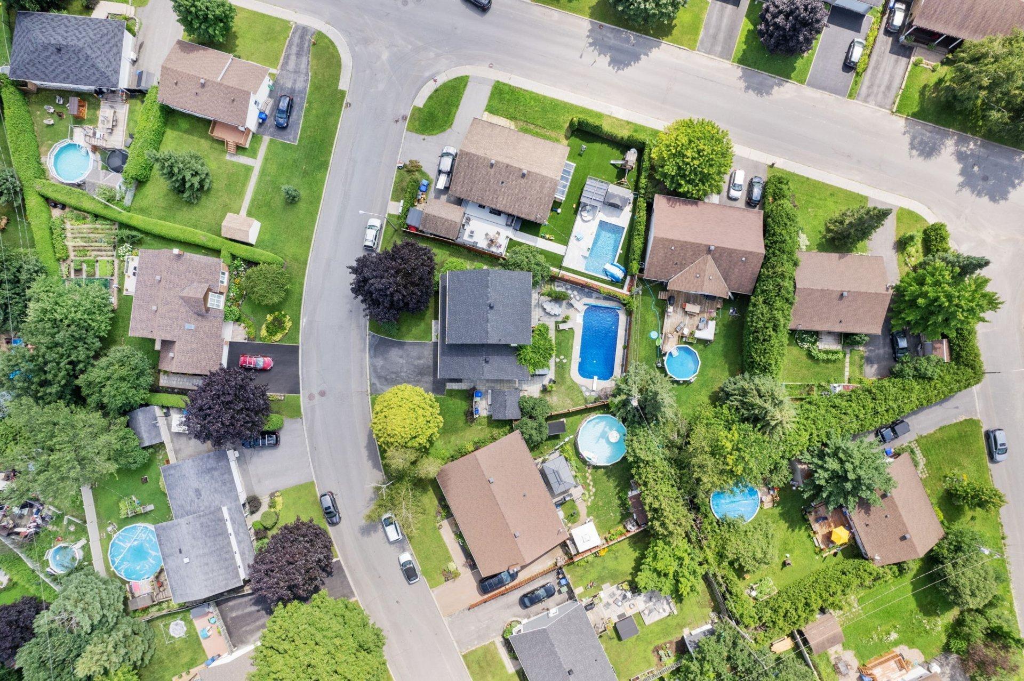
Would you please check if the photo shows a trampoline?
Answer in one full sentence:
Yes, there's a trampoline here.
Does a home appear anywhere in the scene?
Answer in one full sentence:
Yes, a home is visible in the scene.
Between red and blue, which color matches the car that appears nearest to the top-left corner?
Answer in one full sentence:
The car that appears nearest to the top-left corner looks blue in the image.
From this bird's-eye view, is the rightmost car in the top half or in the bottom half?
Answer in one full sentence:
The bottom half of the photo is where the rightmost car is.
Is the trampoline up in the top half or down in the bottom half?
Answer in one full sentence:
You can find the trampoline in the top half.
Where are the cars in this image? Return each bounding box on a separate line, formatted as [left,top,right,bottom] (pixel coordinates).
[844,38,864,70]
[383,511,403,544]
[364,218,382,250]
[245,432,281,450]
[517,581,557,609]
[744,176,763,207]
[984,428,1006,463]
[275,94,295,130]
[320,489,342,525]
[399,551,421,585]
[726,168,745,200]
[239,354,275,370]
[884,2,905,33]
[464,0,493,16]
[478,570,519,596]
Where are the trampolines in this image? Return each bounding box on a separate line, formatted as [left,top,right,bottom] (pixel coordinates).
[96,145,125,171]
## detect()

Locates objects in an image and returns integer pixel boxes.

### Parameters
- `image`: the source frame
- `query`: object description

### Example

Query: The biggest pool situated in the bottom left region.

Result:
[108,523,163,580]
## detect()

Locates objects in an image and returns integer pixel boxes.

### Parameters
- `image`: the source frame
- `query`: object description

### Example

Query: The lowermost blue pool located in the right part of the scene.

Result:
[709,477,760,526]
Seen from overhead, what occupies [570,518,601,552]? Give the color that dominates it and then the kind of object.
white gazebo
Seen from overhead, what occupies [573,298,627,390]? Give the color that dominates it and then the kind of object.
blue swimming pool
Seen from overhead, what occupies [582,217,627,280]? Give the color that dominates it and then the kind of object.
blue swimming pool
